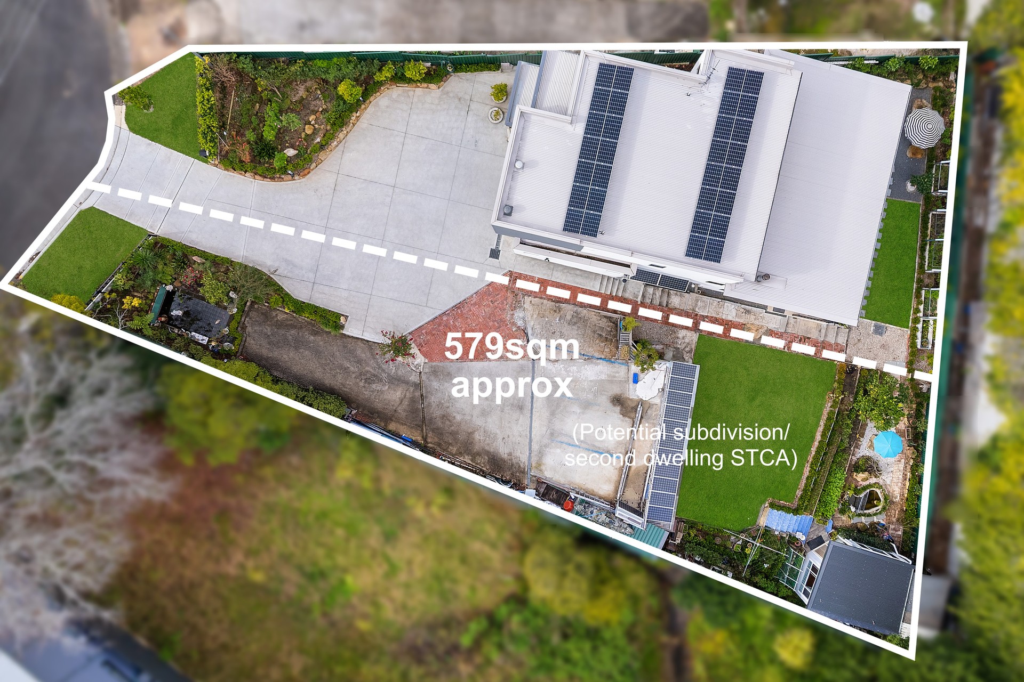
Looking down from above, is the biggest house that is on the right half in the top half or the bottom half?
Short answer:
top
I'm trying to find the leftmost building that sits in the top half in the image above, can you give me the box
[491,41,914,327]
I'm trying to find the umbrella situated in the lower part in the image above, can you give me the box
[872,429,903,460]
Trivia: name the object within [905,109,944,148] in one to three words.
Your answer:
umbrella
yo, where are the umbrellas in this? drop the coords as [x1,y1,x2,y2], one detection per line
[872,429,903,460]
[905,109,944,148]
